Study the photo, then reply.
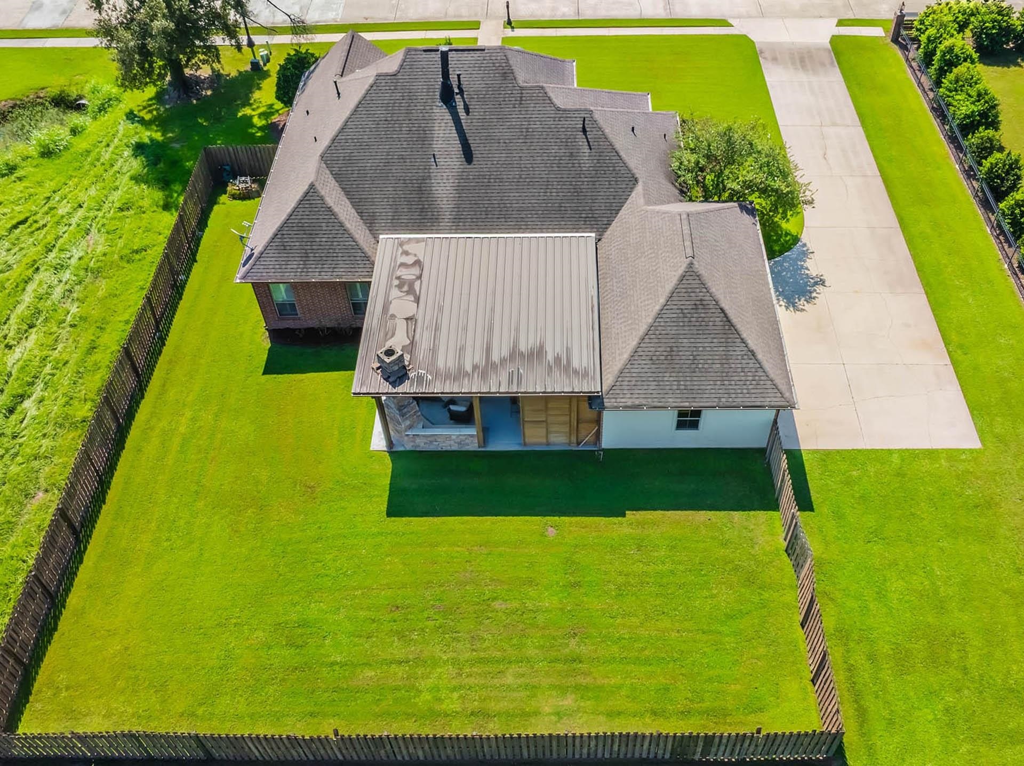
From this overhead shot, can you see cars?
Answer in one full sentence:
No, there's no car here.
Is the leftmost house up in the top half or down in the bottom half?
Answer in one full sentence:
The leftmost house is in the top half of the image.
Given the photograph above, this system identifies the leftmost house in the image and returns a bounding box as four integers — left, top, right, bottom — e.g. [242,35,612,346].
[231,29,801,453]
